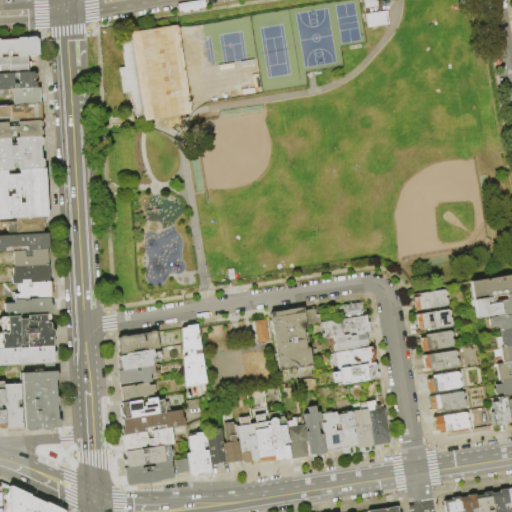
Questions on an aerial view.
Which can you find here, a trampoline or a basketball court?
basketball court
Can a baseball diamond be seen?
Yes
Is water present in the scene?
No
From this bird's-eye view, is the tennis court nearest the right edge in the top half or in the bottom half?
top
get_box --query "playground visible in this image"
[138,195,194,286]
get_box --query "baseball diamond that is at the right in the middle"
[395,159,486,254]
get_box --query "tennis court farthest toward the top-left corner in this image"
[204,16,258,66]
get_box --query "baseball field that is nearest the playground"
[202,108,272,189]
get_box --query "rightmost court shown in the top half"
[334,0,366,46]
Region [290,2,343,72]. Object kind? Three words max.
basketball court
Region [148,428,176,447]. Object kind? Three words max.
house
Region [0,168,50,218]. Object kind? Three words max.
building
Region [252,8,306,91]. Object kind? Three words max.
tennis court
